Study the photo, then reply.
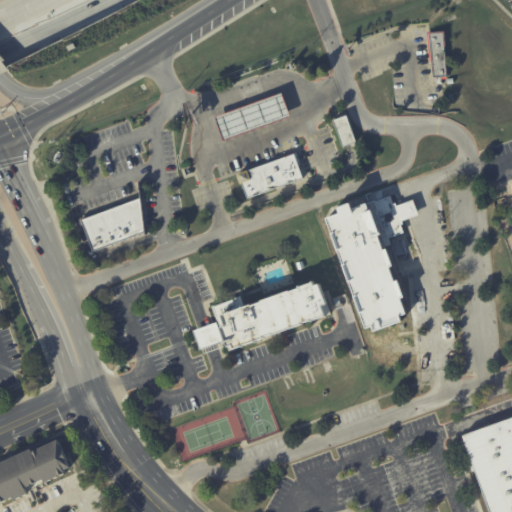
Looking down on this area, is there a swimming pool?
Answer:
Yes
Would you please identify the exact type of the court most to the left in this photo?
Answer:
tennis court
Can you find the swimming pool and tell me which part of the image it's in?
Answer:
center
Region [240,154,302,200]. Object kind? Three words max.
building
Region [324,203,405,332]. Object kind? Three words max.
building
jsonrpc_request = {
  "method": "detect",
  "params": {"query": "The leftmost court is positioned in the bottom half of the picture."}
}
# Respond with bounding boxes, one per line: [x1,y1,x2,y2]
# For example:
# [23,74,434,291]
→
[176,406,247,462]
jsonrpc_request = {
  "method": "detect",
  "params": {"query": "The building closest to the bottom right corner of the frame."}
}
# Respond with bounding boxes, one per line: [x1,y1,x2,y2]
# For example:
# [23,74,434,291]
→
[460,418,512,512]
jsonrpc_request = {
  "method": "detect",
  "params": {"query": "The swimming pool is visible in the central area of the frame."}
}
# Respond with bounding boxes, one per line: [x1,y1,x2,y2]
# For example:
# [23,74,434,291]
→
[258,259,294,294]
